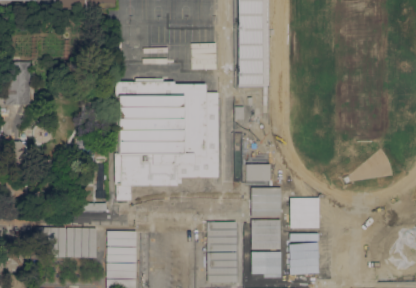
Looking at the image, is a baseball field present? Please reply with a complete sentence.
Yes, you can see a baseball field in this photo.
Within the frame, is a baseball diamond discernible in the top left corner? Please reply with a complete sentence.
No, in the top left corner there is no baseball diamond.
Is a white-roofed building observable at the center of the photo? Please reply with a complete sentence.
Yes, there is a white-roofed building at the center of the photo.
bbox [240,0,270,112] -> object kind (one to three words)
building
